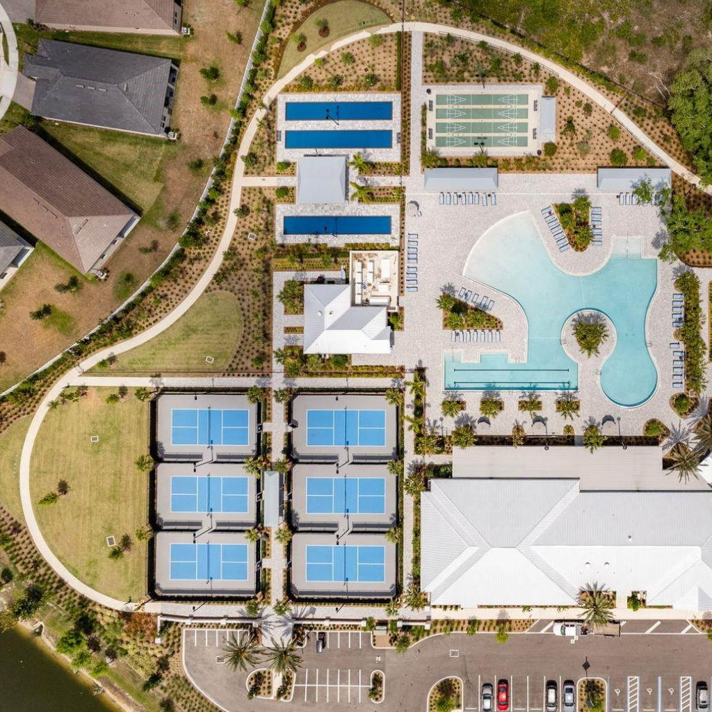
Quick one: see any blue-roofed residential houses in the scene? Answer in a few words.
No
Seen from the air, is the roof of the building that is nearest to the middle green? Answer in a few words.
No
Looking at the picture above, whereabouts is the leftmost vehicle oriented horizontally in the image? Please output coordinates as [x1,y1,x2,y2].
[552,622,587,637]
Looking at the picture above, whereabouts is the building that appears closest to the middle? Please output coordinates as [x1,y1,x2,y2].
[304,284,391,353]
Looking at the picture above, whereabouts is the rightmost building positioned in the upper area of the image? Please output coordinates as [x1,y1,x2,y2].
[598,168,670,191]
